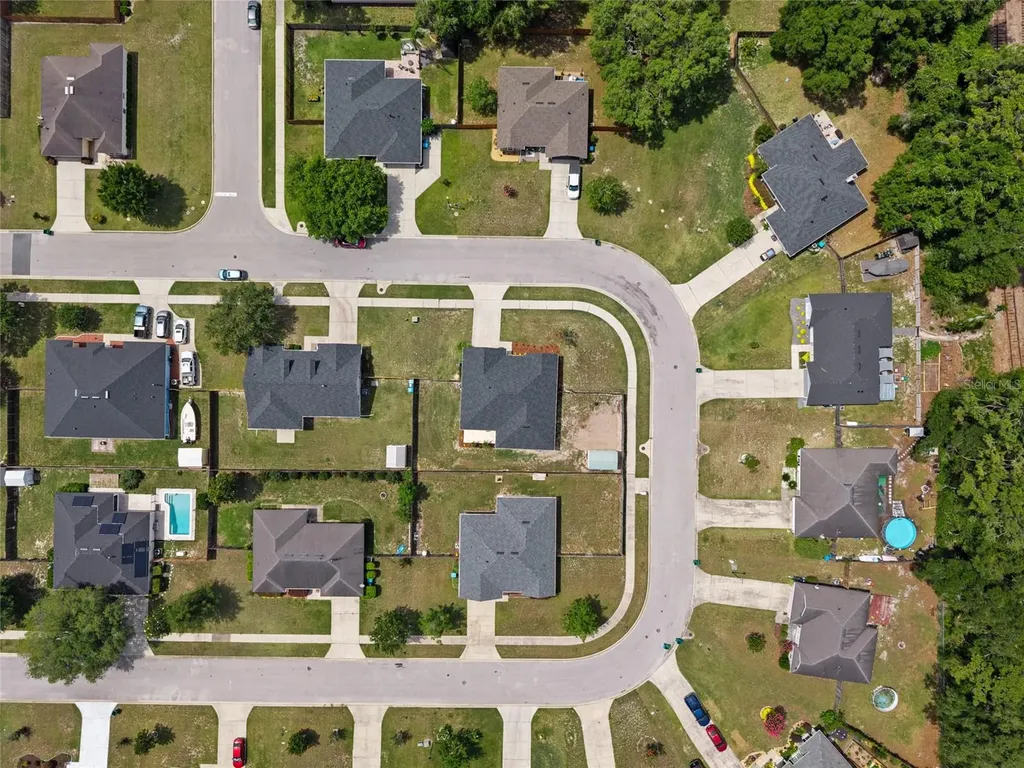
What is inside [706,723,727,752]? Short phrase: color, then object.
red car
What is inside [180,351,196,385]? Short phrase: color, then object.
white vehicle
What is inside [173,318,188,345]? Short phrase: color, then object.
white car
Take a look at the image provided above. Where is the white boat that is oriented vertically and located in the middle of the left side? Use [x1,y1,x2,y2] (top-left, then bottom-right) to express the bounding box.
[181,396,198,442]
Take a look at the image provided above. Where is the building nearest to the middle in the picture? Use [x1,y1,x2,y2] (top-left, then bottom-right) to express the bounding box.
[460,347,559,449]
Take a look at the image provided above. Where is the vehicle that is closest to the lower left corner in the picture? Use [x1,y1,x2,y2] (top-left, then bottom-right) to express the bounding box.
[233,737,247,767]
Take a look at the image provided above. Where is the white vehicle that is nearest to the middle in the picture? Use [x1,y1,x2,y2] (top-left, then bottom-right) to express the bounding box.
[567,163,580,199]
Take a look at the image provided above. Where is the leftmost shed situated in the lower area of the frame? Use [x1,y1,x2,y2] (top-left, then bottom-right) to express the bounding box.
[4,468,41,486]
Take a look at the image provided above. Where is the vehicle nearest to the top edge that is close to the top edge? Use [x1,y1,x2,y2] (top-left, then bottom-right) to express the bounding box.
[247,1,261,30]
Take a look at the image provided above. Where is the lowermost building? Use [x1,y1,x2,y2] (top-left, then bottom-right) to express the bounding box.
[774,727,849,768]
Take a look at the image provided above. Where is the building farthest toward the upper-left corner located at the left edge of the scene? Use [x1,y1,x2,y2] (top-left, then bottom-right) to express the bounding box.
[40,43,129,158]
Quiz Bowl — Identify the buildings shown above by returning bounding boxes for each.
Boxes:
[40,43,129,158]
[587,450,618,470]
[243,344,362,430]
[496,66,589,164]
[460,347,559,449]
[890,233,918,253]
[903,426,923,436]
[459,497,557,601]
[790,447,898,540]
[45,340,171,439]
[787,581,878,683]
[755,114,869,257]
[178,447,209,467]
[252,509,365,597]
[53,492,155,595]
[386,444,408,468]
[803,292,893,406]
[774,727,849,768]
[4,468,41,486]
[324,60,422,168]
